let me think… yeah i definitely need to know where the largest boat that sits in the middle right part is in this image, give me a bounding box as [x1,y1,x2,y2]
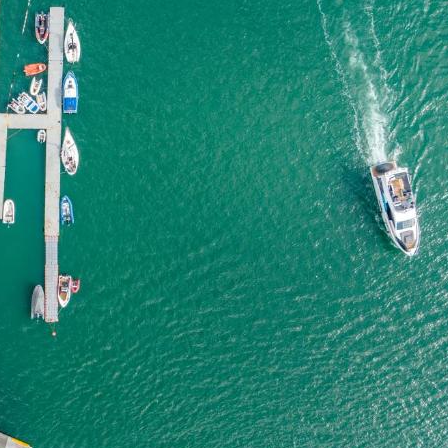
[368,157,421,257]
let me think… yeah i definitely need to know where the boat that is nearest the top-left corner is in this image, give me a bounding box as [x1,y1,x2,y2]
[34,10,49,43]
